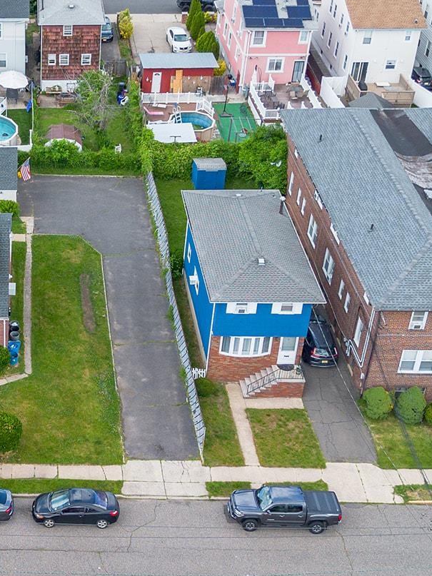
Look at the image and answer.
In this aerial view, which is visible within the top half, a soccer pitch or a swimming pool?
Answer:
swimming pool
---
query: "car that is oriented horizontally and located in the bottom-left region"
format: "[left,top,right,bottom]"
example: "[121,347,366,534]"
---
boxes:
[32,484,122,525]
